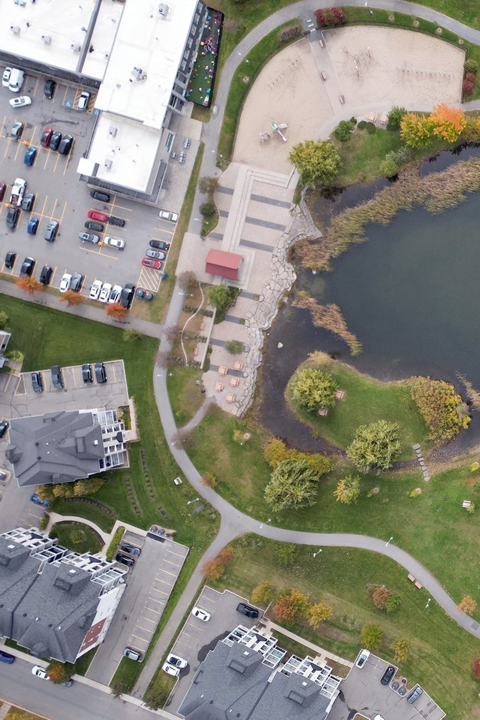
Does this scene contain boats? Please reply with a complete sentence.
No, no boat is visible in the scene.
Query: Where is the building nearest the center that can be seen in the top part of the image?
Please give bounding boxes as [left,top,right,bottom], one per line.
[199,248,239,276]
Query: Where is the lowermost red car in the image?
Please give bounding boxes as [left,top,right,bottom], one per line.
[140,257,162,270]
